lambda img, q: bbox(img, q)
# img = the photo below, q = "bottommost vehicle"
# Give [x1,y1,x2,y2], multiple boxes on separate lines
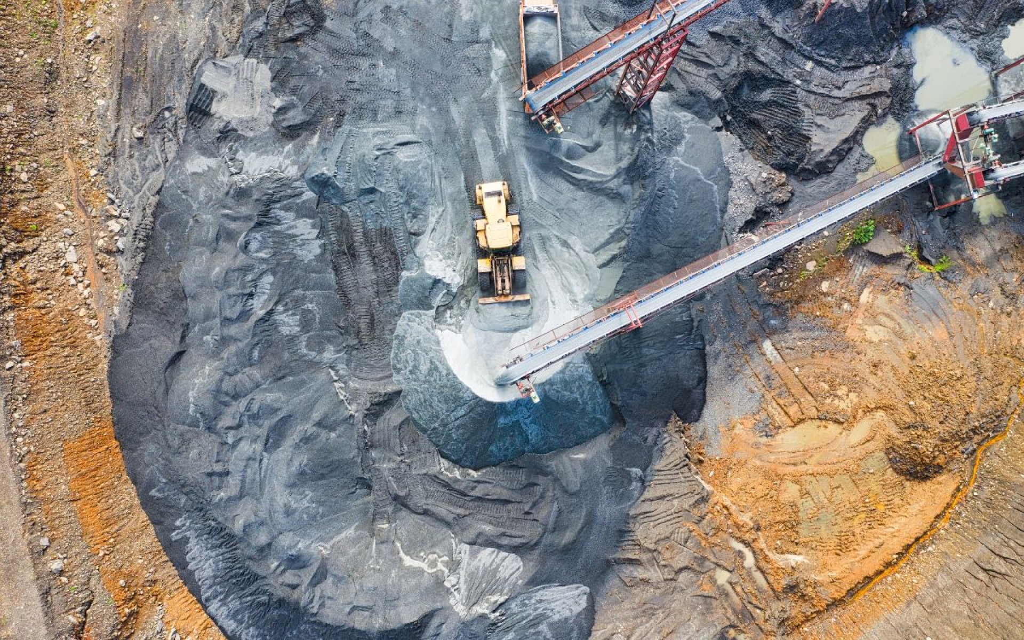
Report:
[473,181,531,307]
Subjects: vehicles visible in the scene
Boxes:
[473,181,531,307]
[516,0,563,104]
